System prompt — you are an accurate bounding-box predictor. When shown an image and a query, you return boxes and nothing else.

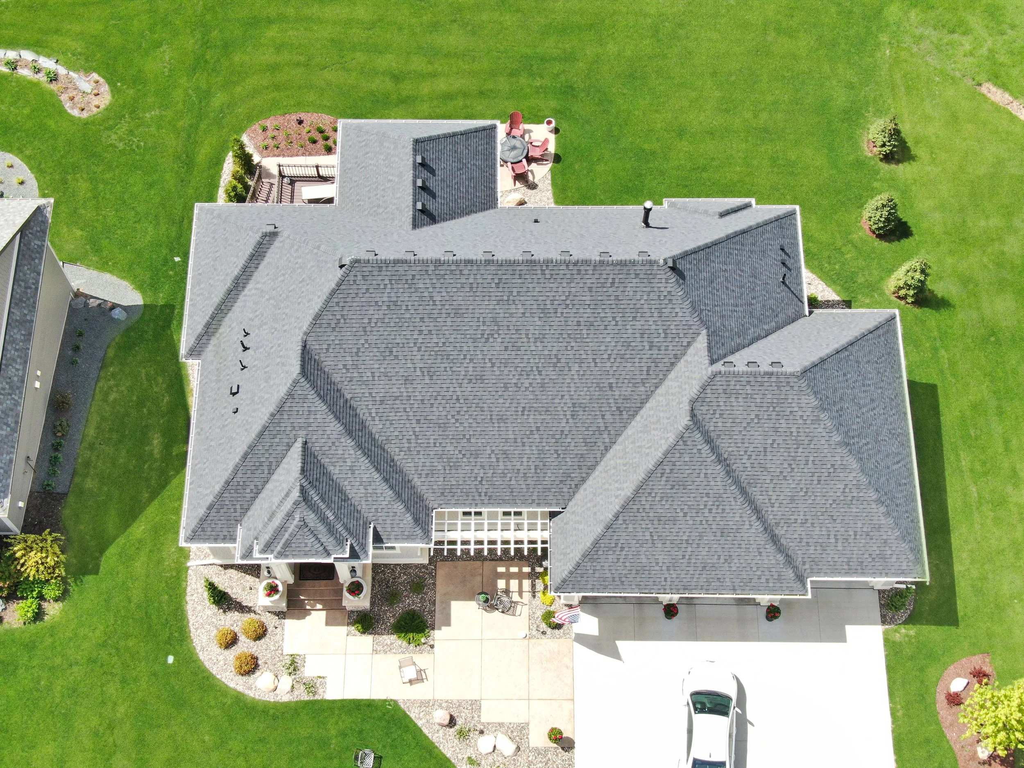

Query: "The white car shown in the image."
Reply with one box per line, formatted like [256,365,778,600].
[673,659,744,768]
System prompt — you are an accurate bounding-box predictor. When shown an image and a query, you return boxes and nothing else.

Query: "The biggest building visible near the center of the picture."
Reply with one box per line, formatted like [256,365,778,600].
[180,118,931,611]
